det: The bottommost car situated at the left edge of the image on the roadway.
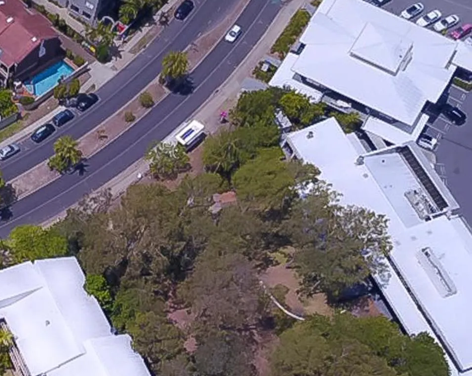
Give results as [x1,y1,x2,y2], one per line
[0,143,22,161]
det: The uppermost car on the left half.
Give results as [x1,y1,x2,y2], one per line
[174,1,193,20]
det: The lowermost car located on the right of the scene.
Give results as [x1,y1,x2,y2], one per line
[415,133,440,152]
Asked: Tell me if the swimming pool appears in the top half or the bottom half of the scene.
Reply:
top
